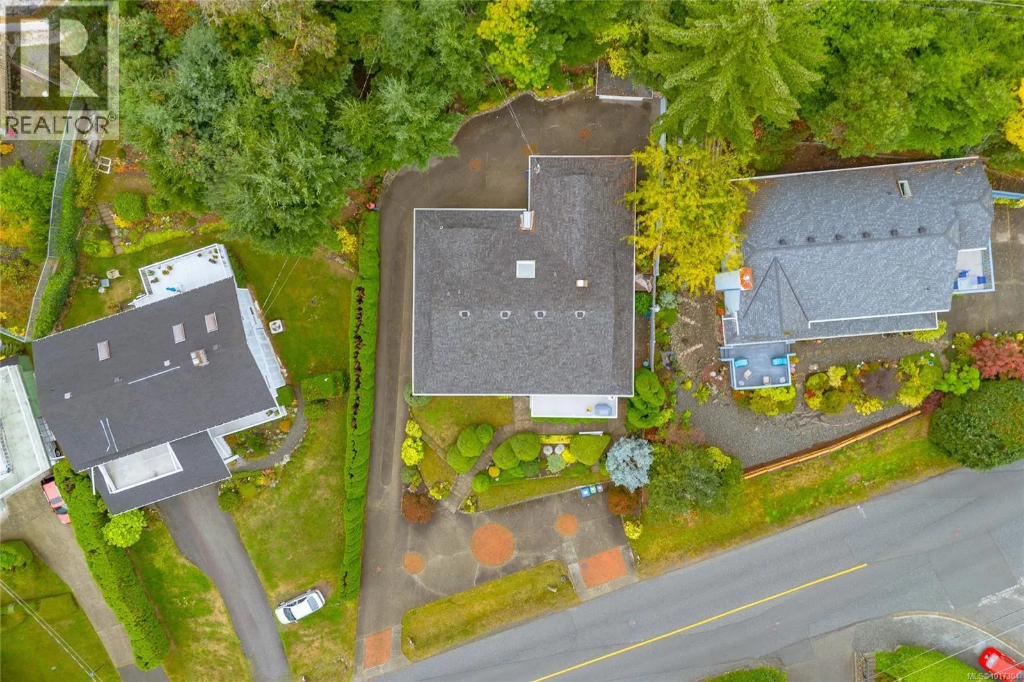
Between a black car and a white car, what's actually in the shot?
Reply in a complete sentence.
There is a white car in the scene.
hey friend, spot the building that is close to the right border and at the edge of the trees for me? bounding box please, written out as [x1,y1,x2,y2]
[710,157,1001,389]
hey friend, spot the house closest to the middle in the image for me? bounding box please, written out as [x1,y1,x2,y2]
[412,148,639,419]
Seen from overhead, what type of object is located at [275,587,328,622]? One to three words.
car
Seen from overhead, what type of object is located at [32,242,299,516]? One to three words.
house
